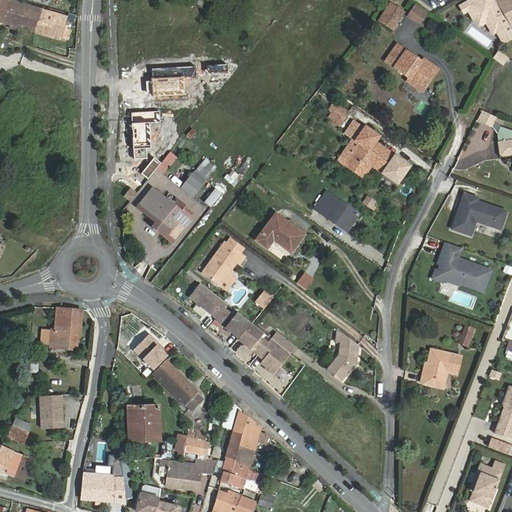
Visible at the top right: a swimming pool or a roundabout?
swimming pool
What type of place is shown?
residential area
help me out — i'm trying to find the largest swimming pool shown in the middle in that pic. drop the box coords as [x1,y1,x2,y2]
[225,280,254,308]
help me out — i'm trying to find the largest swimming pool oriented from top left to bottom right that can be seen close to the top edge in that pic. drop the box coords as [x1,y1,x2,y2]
[464,23,496,50]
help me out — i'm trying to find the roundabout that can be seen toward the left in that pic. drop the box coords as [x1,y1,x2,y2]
[50,225,117,298]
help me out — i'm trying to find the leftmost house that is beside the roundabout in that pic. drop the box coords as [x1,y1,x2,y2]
[48,307,83,351]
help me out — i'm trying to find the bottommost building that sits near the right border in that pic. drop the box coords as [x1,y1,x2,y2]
[470,460,506,512]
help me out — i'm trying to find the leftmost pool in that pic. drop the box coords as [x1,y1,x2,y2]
[95,442,107,463]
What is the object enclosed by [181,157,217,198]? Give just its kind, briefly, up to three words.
shed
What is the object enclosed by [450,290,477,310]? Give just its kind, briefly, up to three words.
swimming pool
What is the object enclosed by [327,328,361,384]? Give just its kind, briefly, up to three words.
house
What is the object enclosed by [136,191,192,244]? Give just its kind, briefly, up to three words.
building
